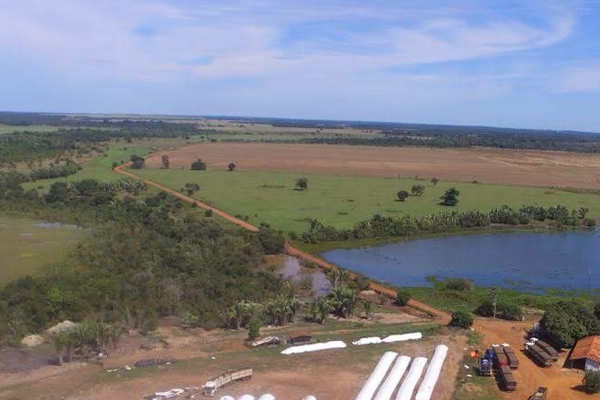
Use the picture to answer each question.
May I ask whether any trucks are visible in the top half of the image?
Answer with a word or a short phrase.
No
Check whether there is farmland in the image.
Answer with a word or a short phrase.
Yes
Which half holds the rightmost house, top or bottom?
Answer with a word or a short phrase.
bottom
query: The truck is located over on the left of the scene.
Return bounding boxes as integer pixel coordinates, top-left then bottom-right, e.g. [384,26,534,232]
[204,370,256,397]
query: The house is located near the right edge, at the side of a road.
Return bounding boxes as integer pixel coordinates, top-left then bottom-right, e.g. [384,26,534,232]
[569,338,600,374]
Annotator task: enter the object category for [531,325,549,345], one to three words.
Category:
vehicle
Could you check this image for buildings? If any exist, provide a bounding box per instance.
[287,335,313,345]
[569,338,600,374]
